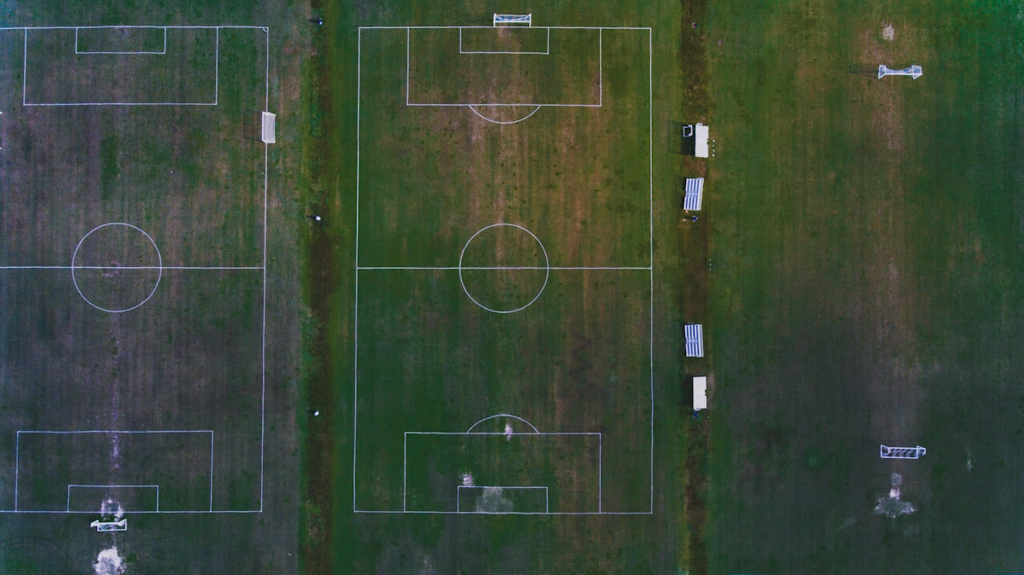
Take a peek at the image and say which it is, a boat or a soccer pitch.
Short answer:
soccer pitch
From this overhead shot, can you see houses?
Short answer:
No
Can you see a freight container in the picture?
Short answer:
No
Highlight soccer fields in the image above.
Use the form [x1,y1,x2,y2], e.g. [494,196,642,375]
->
[0,17,282,522]
[724,17,1024,547]
[341,17,664,522]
